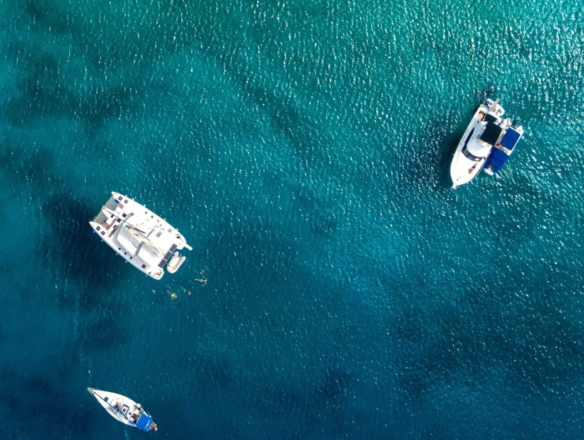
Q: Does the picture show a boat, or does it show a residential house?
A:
boat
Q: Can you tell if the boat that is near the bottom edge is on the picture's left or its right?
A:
left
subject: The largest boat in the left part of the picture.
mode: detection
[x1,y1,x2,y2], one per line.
[89,191,192,280]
